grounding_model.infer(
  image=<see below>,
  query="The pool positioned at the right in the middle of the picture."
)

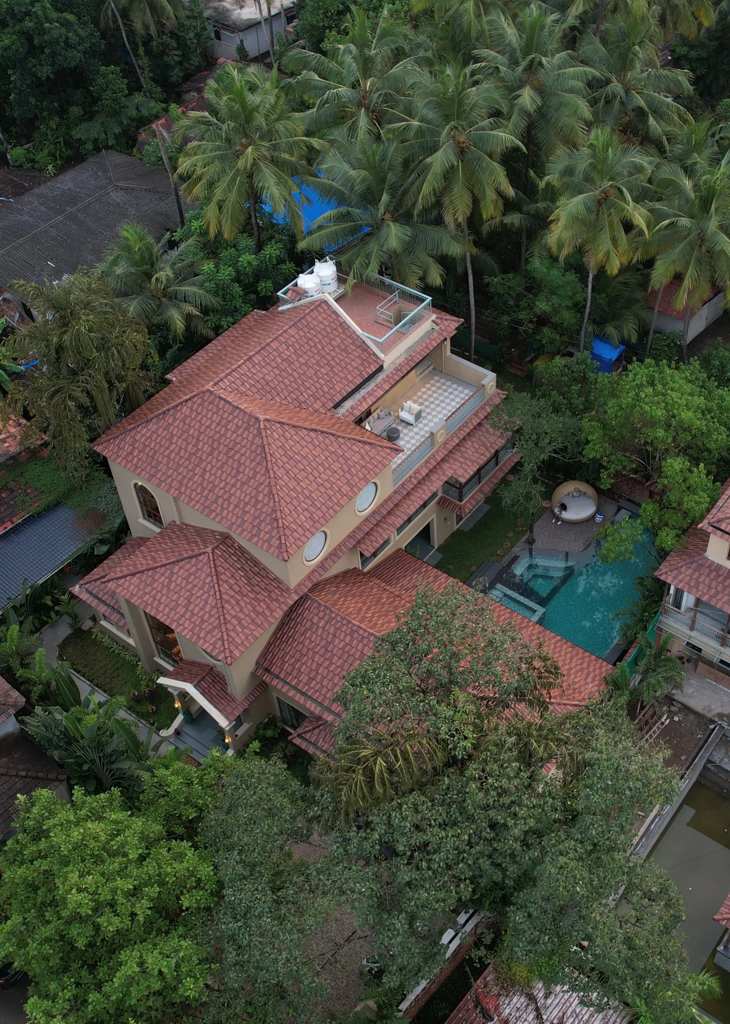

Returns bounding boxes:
[473,498,691,660]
